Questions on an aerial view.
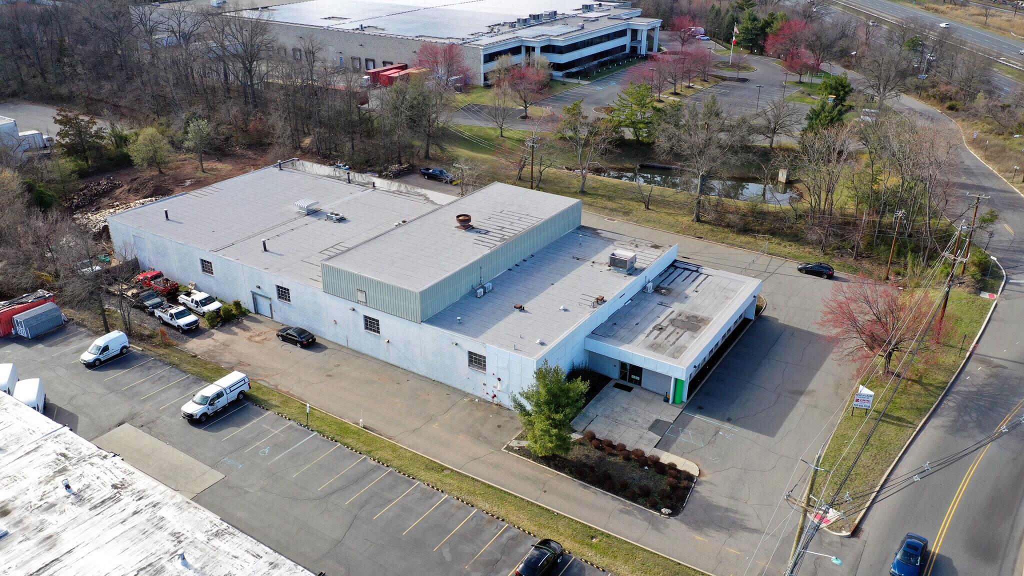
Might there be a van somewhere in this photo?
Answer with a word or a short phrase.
Yes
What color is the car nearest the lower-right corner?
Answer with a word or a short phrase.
blue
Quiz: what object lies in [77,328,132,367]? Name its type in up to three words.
van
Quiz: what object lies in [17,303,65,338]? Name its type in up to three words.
shed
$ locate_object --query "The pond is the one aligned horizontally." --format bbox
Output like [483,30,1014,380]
[565,165,802,203]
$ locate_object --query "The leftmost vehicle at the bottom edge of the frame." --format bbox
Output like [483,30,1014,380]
[517,532,567,576]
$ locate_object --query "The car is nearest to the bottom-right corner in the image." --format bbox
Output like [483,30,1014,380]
[888,531,930,576]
